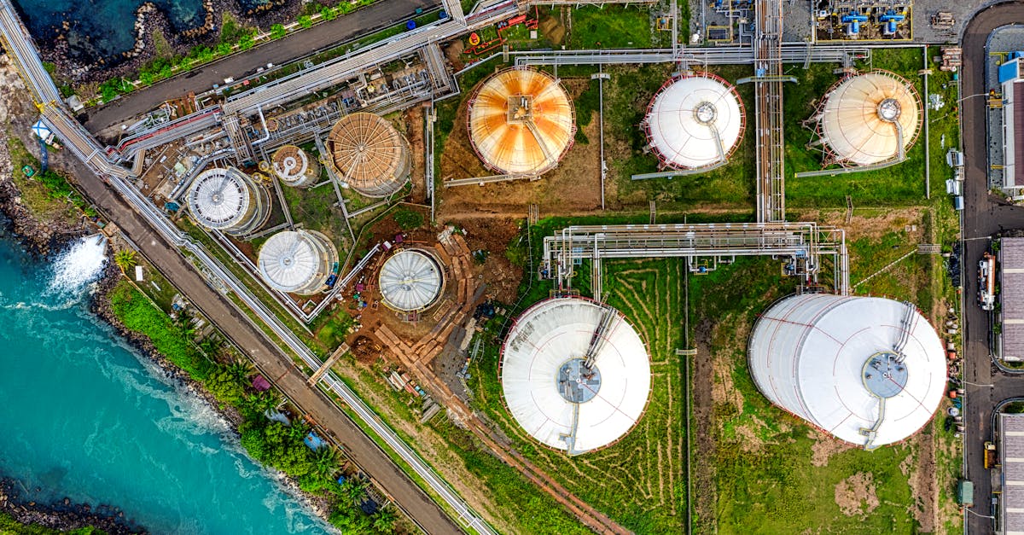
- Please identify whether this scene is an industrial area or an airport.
industrial area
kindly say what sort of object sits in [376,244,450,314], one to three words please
storage tank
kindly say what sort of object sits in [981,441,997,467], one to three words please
vehicle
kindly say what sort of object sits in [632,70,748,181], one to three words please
storage tank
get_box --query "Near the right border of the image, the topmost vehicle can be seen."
[976,253,995,310]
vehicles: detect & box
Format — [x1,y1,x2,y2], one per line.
[981,441,997,467]
[976,253,995,310]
